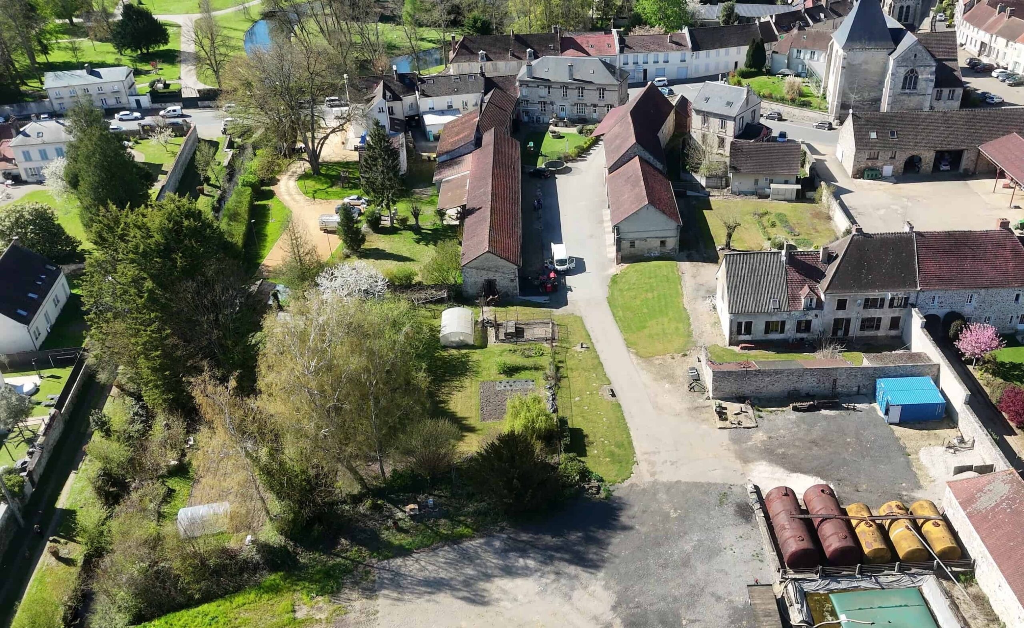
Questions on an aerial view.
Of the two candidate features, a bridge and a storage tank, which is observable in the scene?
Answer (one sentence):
This aerial view contains a storage tank.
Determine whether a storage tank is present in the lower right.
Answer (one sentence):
Yes, a storage tank appears in the lower right.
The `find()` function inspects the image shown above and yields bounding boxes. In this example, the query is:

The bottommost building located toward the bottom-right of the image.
[940,456,1024,628]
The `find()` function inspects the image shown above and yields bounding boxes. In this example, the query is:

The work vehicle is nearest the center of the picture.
[539,275,558,293]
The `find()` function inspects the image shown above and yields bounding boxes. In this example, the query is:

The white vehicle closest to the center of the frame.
[546,238,577,277]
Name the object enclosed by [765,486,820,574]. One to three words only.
storage tank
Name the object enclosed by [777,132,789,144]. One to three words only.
vehicle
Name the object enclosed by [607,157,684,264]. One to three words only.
barn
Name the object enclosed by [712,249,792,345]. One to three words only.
house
